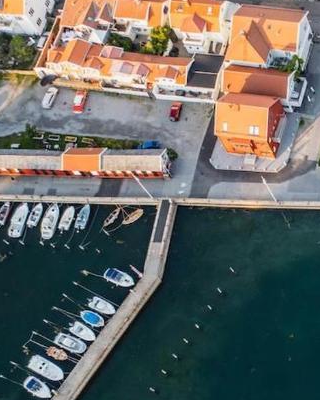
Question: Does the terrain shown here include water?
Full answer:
Yes, water shows up in the scene.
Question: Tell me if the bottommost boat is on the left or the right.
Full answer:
You can find the bottommost boat on the left side of the picture.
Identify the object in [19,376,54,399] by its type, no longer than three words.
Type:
boat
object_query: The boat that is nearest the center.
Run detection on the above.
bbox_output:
[123,207,145,225]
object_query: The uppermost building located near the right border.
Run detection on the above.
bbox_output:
[219,8,316,76]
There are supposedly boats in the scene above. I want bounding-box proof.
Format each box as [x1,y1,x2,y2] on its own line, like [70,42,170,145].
[79,311,106,328]
[51,333,88,354]
[45,348,71,362]
[101,267,135,288]
[40,203,61,240]
[9,203,30,237]
[58,205,76,232]
[27,204,44,228]
[103,206,121,229]
[23,354,67,380]
[66,321,96,342]
[19,376,54,399]
[123,207,145,225]
[0,204,11,227]
[76,205,91,231]
[86,297,115,316]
